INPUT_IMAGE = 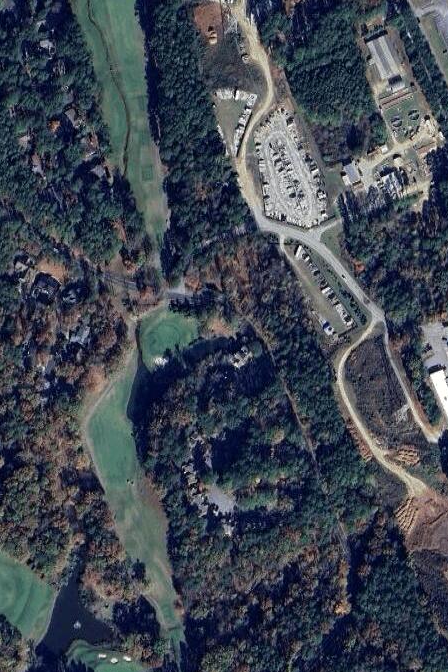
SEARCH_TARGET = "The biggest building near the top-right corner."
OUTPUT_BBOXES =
[367,34,401,80]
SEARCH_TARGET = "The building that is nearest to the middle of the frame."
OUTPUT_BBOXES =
[224,344,251,368]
